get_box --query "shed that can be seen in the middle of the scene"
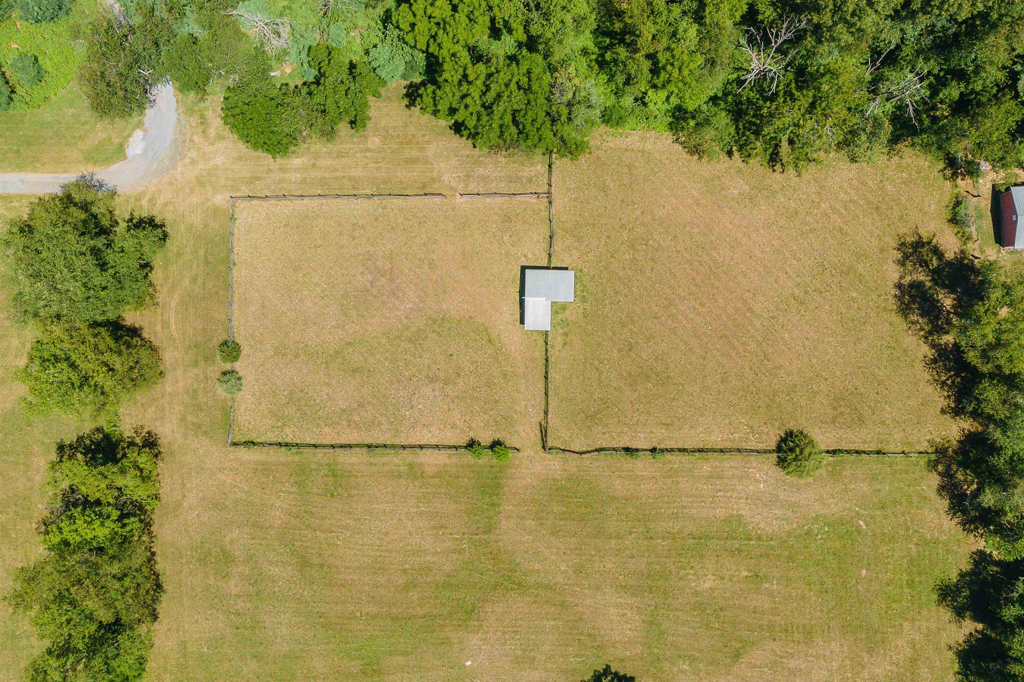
[522,268,577,330]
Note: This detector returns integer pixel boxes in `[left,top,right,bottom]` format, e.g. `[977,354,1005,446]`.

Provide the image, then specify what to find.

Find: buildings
[522,268,577,330]
[998,189,1024,247]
